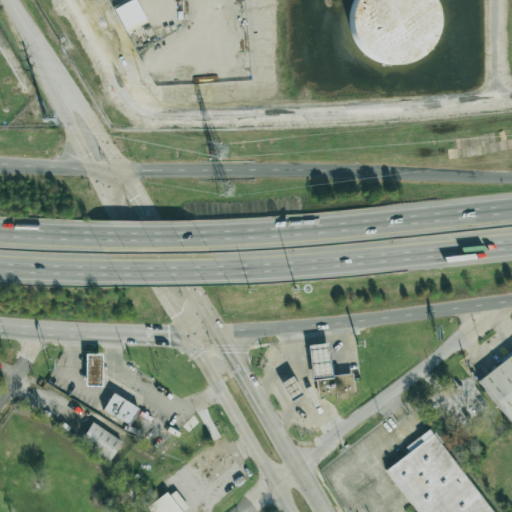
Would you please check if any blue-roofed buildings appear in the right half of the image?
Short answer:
No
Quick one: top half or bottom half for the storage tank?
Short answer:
top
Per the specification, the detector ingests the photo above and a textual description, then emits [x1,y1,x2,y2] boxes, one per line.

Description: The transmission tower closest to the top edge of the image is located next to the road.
[210,142,228,166]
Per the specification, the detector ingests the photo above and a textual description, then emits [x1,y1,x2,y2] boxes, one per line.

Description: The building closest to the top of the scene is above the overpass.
[116,0,147,32]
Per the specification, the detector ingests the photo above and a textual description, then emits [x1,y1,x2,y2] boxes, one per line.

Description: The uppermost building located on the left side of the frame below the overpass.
[86,354,104,386]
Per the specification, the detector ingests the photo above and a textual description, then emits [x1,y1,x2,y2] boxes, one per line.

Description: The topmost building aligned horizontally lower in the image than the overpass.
[316,374,356,396]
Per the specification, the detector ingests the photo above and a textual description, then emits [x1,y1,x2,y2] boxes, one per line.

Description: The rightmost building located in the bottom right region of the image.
[477,353,512,422]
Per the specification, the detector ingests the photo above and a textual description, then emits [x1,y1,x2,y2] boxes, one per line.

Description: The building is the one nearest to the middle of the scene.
[309,343,334,380]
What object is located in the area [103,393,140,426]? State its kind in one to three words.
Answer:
building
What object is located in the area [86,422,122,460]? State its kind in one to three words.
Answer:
building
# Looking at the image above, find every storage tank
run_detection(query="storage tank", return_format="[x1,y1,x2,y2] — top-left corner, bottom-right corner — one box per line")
[349,0,443,66]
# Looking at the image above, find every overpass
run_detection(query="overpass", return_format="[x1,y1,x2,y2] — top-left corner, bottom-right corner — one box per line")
[0,192,512,286]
